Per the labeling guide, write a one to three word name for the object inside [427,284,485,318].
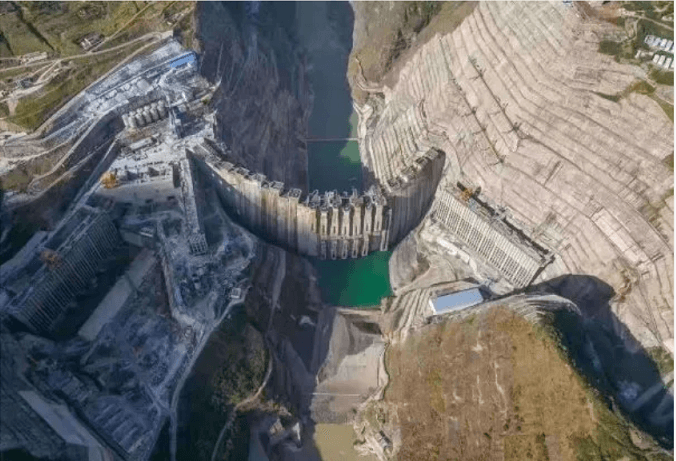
building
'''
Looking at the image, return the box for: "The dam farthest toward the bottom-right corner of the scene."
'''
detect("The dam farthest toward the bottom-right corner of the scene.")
[321,305,386,324]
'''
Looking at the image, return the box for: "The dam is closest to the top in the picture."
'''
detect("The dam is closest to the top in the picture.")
[199,145,445,264]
